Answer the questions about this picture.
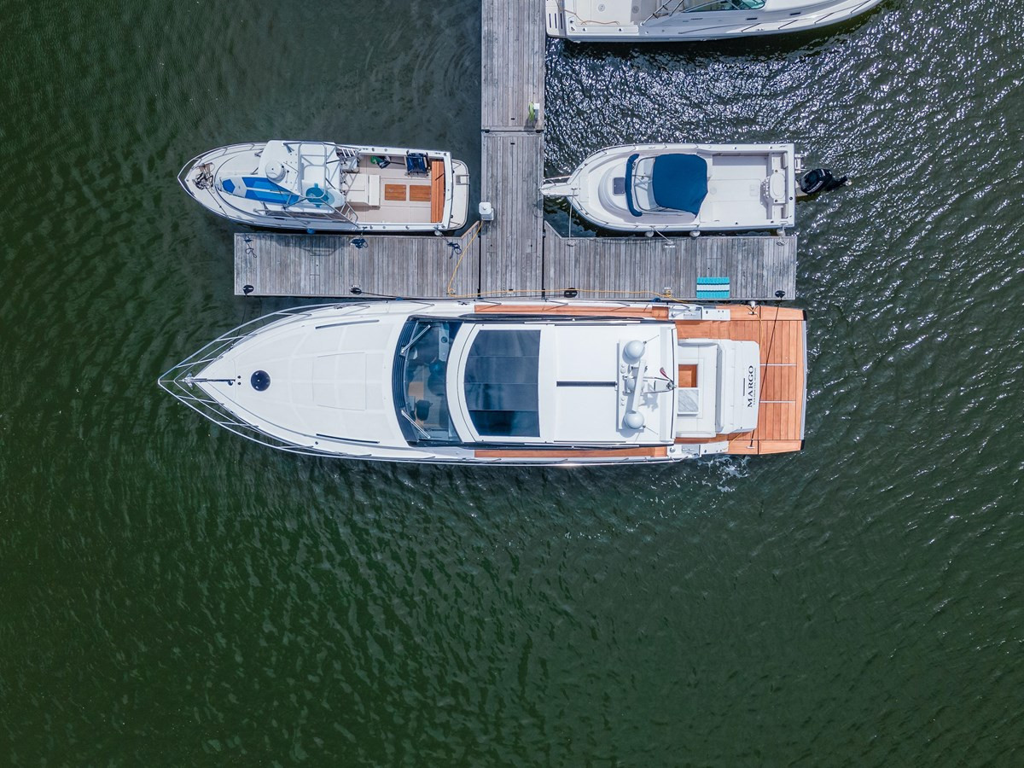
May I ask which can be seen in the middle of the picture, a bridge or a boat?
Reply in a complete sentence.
It is a boat that can be seen in the middle of the picture.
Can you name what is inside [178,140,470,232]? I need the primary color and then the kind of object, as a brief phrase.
white boat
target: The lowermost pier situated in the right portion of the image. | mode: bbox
[543,222,797,300]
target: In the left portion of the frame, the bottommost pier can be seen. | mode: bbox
[235,221,482,298]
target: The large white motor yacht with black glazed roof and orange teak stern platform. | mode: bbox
[159,299,806,462]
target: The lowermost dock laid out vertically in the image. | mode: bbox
[482,132,543,299]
